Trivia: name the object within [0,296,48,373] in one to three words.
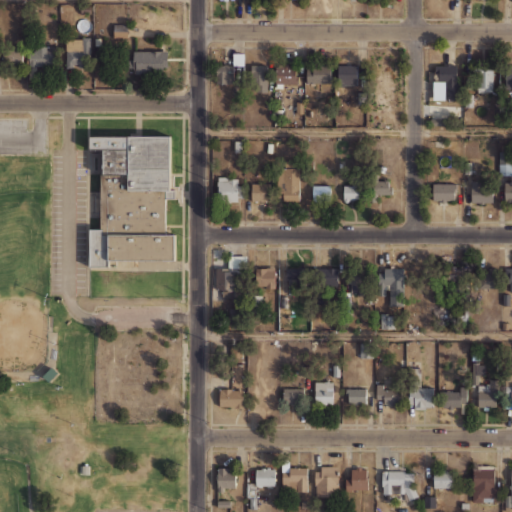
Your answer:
baseball field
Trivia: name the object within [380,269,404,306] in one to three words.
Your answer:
house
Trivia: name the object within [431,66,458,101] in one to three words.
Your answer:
house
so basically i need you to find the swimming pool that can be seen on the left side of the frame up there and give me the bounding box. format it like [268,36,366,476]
[78,19,92,34]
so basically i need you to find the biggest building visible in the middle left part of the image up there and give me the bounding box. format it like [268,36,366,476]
[89,136,176,268]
